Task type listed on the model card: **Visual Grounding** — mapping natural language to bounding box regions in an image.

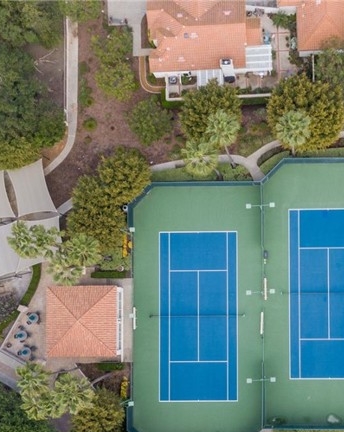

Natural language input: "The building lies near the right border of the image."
[277,0,344,54]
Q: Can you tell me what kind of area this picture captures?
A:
sports ground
